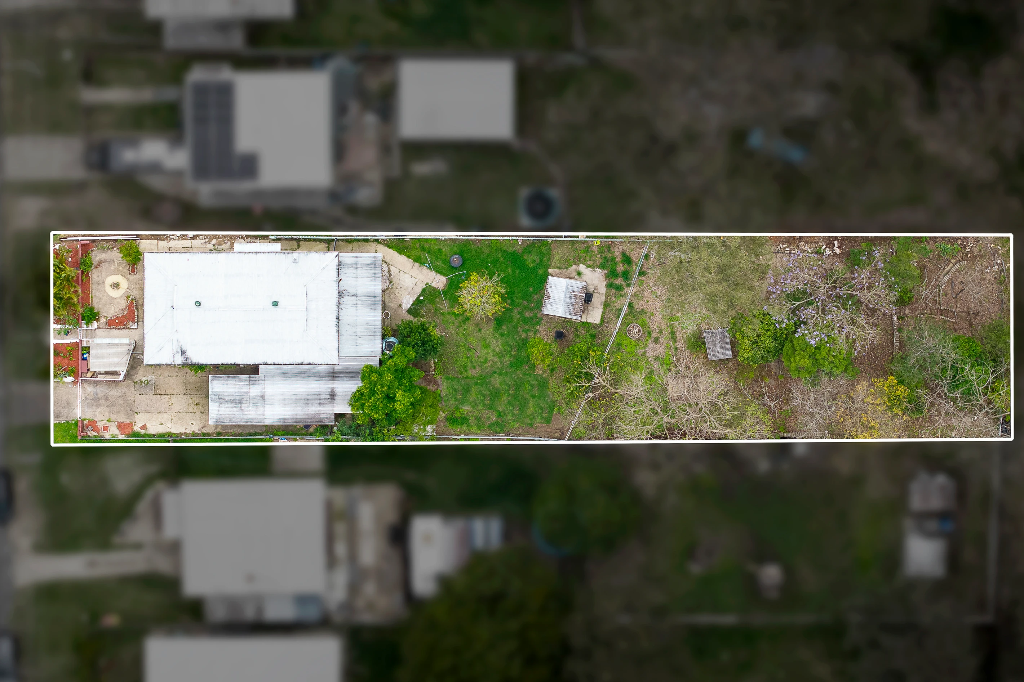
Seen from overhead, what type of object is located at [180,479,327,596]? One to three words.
house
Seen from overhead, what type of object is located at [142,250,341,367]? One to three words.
house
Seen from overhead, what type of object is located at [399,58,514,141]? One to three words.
building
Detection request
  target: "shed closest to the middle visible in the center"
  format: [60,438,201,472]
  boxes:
[542,276,587,320]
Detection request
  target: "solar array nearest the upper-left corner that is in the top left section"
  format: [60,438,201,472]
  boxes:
[192,81,257,181]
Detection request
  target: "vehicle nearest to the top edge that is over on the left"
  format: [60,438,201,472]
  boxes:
[81,136,163,170]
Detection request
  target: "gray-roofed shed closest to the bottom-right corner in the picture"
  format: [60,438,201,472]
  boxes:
[898,532,946,579]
